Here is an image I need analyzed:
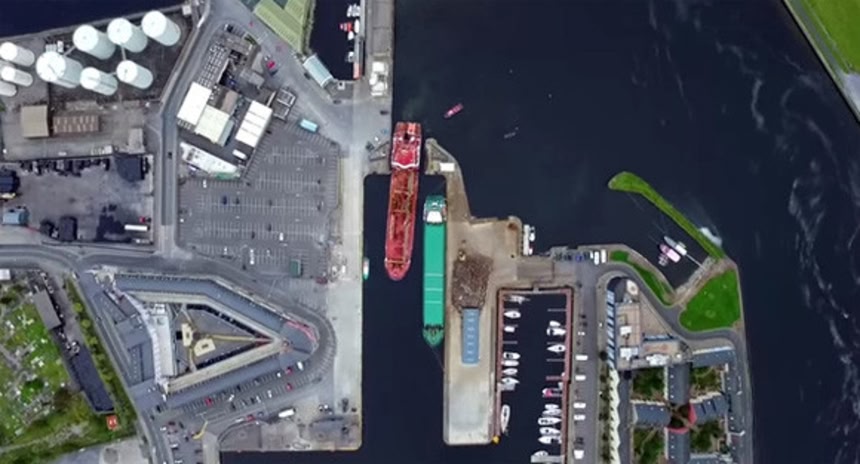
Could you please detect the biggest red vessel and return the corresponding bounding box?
[385,121,422,281]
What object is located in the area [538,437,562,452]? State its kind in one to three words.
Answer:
boat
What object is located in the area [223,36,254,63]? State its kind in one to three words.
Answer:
building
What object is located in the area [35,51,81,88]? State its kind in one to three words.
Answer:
storage tank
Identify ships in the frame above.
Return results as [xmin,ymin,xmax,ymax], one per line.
[385,121,422,281]
[422,195,447,348]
